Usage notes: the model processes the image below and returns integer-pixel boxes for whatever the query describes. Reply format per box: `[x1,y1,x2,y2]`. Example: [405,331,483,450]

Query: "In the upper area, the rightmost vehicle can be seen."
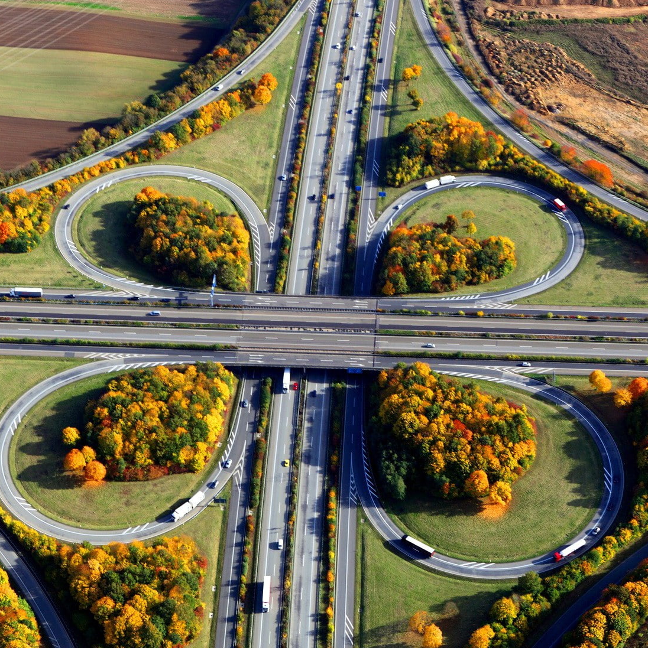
[554,197,567,212]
